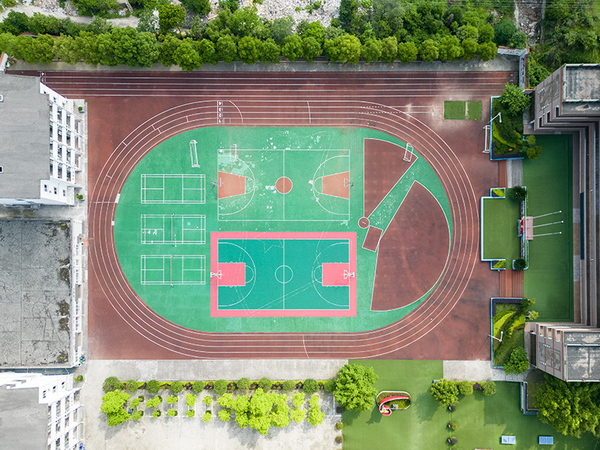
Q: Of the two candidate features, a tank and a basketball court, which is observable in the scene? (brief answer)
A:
basketball court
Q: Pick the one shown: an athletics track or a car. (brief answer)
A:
athletics track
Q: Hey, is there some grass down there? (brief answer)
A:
Yes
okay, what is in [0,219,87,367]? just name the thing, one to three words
building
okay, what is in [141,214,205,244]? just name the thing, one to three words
sports court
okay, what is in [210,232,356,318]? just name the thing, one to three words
basketball court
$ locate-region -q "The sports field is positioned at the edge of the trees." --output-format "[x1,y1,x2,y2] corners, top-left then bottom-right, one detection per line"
[114,127,452,333]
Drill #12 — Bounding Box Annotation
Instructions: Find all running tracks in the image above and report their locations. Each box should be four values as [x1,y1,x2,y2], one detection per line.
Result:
[24,71,519,359]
